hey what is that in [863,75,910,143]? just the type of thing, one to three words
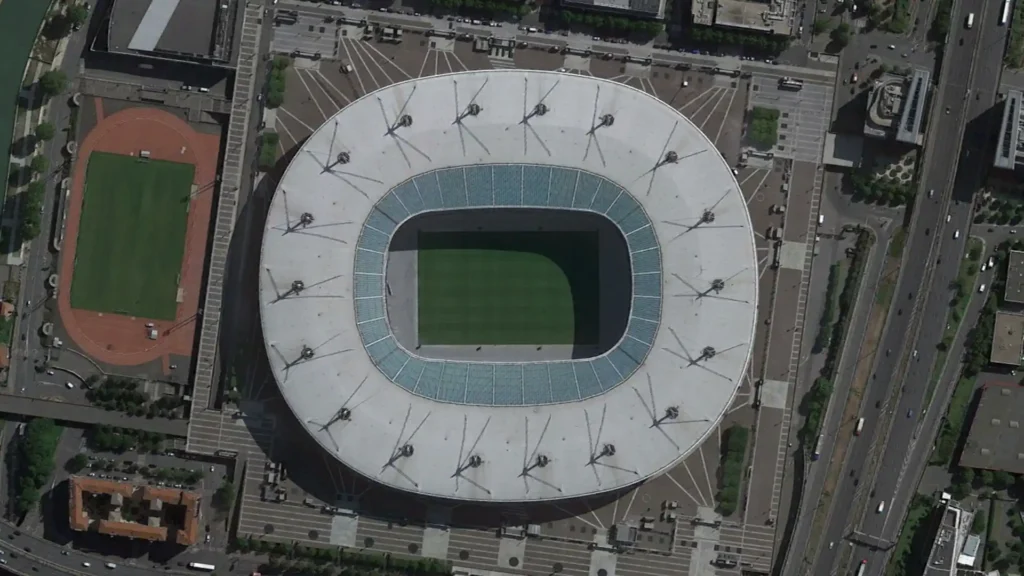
building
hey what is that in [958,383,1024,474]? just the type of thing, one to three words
building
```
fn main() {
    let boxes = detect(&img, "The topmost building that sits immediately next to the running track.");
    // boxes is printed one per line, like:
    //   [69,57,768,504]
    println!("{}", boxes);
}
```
[91,0,246,71]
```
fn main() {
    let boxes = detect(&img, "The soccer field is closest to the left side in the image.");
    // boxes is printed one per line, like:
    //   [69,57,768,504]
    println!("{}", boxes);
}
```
[70,152,195,320]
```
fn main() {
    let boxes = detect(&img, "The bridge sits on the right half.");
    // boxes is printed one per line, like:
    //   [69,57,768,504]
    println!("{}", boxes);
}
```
[814,0,1014,576]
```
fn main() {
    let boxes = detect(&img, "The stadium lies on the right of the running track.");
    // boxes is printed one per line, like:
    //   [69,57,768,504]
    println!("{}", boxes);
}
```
[261,70,757,500]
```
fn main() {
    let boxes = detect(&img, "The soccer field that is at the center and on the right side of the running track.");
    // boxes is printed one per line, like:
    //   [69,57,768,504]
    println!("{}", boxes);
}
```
[417,231,600,348]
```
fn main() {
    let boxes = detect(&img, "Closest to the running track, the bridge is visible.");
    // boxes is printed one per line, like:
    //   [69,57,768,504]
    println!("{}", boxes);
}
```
[0,395,187,439]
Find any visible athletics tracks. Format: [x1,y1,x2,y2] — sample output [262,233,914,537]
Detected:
[61,97,220,376]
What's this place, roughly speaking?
sports ground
